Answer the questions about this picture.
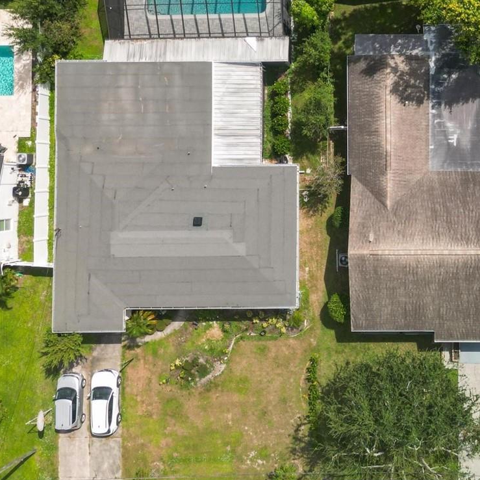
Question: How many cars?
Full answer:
The photo contains 2 cars.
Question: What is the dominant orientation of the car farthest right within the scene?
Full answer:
I'd say the car farthest right is aligned vertically in the picture.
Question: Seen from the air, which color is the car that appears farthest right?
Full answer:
The car that appears farthest right looks white in the image.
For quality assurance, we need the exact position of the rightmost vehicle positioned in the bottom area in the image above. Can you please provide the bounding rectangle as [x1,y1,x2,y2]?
[86,368,120,434]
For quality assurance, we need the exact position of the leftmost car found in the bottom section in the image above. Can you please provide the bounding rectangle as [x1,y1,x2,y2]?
[49,372,83,433]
